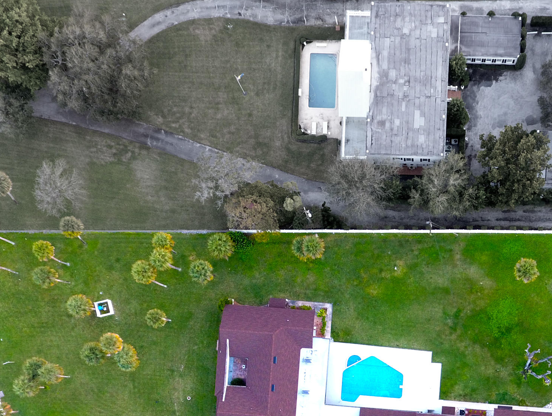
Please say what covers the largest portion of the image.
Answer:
grass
